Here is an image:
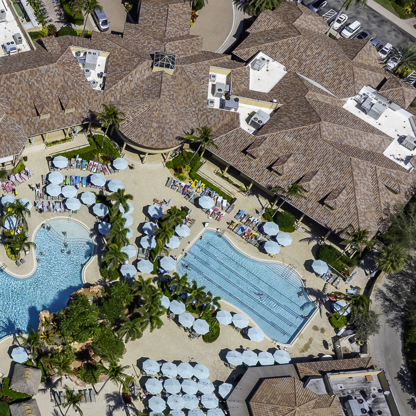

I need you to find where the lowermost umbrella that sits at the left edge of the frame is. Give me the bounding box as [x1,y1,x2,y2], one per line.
[11,348,28,364]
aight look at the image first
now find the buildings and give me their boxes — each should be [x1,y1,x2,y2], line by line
[0,0,416,256]
[9,399,41,416]
[223,357,402,416]
[10,363,40,397]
